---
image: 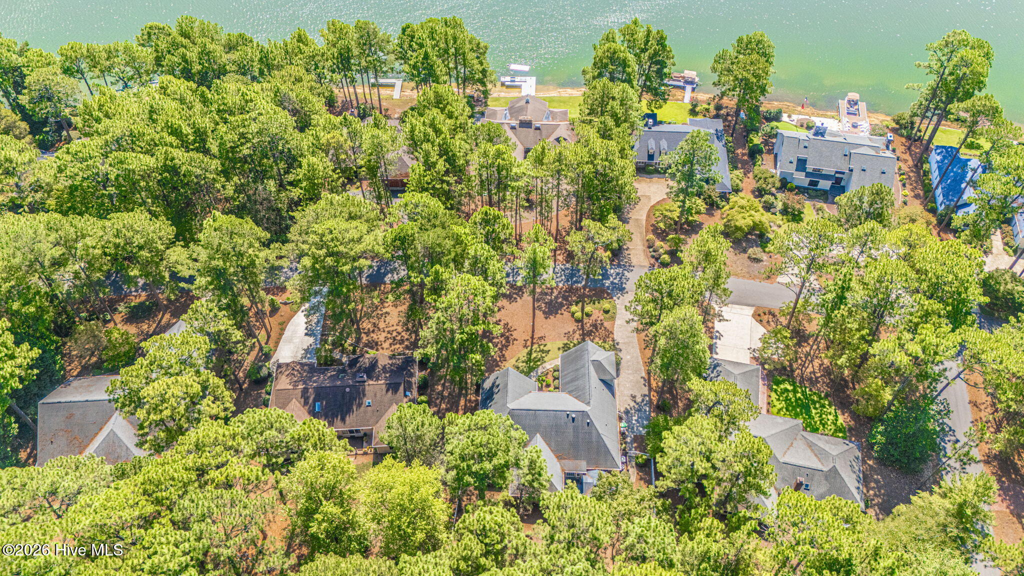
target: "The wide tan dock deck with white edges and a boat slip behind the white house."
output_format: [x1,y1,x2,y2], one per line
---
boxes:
[838,98,870,136]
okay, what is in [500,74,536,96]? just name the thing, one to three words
pier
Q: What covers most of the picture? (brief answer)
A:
trees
